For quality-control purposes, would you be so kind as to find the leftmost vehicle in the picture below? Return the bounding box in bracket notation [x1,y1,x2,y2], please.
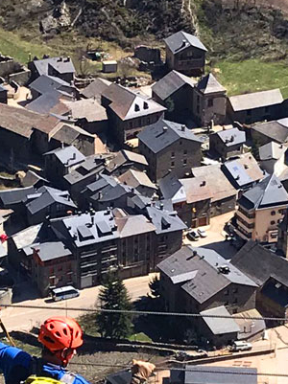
[51,285,78,301]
